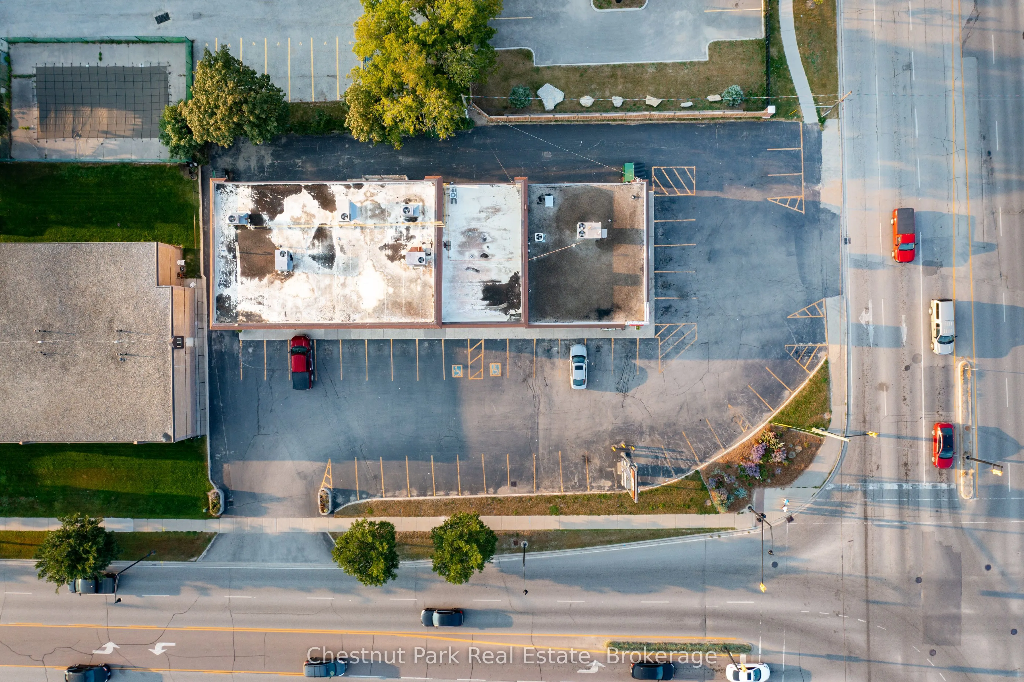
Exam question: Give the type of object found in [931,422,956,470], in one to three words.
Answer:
car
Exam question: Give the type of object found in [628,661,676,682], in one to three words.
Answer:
car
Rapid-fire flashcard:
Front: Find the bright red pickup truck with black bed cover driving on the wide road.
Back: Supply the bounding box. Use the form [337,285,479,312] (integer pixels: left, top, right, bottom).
[892,208,918,263]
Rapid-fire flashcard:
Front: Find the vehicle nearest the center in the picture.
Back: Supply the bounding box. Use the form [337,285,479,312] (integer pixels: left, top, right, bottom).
[569,342,590,390]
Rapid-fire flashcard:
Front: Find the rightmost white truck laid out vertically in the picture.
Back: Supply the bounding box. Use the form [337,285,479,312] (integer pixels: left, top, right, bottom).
[929,299,955,355]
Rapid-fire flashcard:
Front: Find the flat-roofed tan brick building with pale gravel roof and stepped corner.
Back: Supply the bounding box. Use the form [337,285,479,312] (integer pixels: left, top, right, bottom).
[0,242,197,446]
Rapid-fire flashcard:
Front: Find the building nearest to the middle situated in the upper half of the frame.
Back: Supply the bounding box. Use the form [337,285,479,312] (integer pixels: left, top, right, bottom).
[210,176,649,329]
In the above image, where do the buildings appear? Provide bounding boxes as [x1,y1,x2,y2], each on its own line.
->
[0,242,197,446]
[210,176,649,329]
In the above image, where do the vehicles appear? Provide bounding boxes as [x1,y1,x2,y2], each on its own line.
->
[302,657,350,680]
[419,607,465,630]
[64,663,114,682]
[929,299,955,355]
[569,342,590,390]
[628,661,676,682]
[931,422,956,470]
[289,334,313,390]
[892,208,918,263]
[723,663,770,682]
[66,574,120,597]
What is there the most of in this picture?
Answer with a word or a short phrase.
paved ground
